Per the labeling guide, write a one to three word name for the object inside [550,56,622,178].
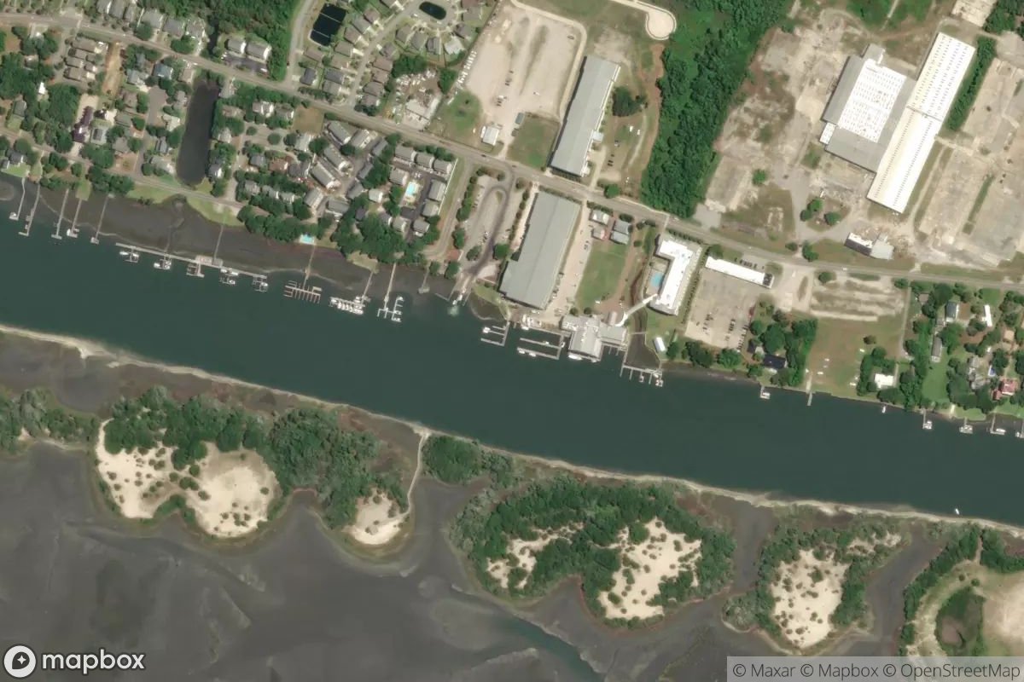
shed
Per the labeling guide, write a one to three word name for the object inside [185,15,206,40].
house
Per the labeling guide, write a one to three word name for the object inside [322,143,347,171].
building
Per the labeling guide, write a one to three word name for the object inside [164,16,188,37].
house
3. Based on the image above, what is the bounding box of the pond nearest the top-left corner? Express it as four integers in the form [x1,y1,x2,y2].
[177,82,219,186]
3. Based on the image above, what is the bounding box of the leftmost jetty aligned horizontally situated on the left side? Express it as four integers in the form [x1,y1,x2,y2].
[116,225,268,292]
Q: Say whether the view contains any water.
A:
Yes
